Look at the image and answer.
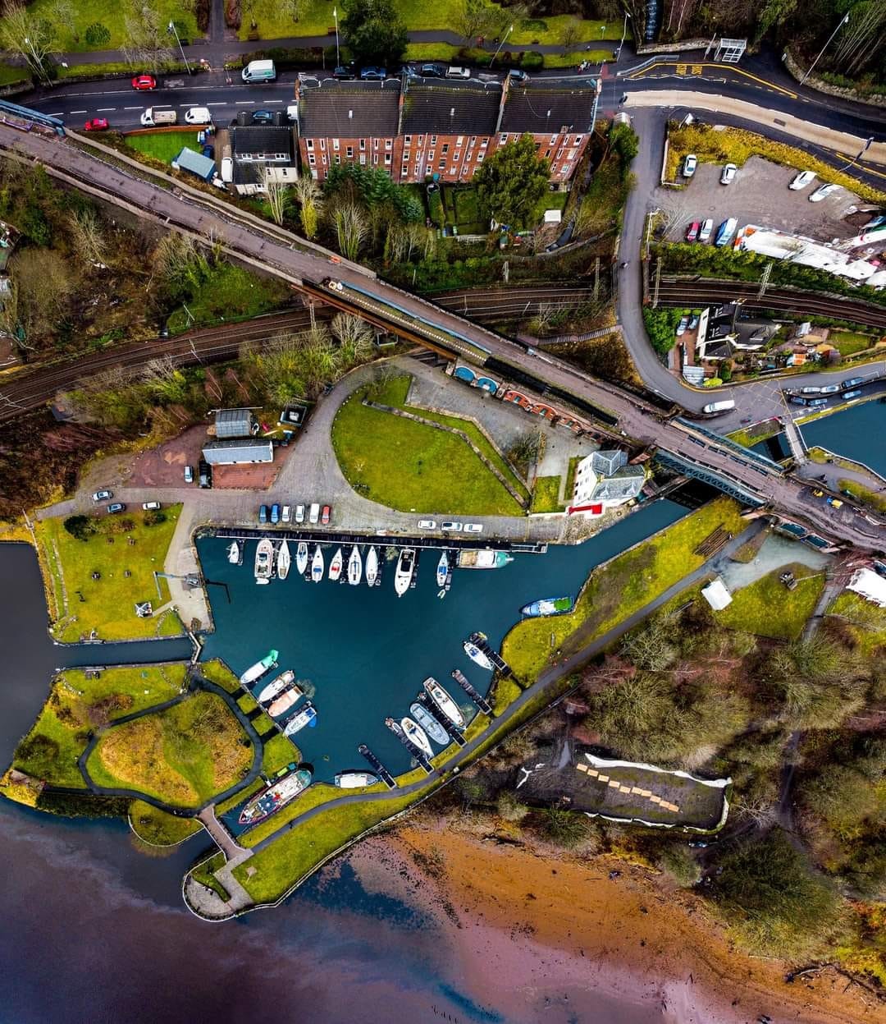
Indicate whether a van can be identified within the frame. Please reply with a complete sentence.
Yes, a van appears in the view.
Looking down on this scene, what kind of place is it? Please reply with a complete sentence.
The area seen from above is a port.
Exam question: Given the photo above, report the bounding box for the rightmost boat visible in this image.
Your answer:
[520,598,573,615]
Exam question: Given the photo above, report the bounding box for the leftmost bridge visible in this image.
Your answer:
[0,98,70,139]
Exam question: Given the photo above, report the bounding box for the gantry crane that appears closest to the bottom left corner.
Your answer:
[153,569,200,601]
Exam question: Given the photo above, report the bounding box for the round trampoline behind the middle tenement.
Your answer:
[426,173,445,195]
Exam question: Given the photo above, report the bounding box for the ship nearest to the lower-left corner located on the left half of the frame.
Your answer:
[239,766,312,833]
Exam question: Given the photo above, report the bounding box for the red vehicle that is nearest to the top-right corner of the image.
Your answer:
[686,221,700,241]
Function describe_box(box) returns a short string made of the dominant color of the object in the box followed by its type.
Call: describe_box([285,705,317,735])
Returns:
white boat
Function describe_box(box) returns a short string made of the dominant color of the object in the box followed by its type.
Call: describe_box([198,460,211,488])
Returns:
black vehicle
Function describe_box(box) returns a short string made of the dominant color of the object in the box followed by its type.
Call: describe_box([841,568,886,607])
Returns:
white tent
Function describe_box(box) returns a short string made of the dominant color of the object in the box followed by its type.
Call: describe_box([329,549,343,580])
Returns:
white boat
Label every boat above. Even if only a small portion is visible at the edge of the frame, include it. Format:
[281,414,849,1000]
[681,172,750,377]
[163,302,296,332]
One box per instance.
[285,705,317,735]
[390,718,400,731]
[520,598,573,615]
[230,541,239,565]
[335,772,376,788]
[423,676,465,727]
[347,545,363,584]
[364,546,379,585]
[241,652,275,684]
[401,715,433,757]
[295,542,308,575]
[275,540,292,579]
[311,546,324,582]
[437,552,448,586]
[463,640,493,668]
[410,700,447,744]
[458,550,512,568]
[259,668,296,702]
[329,549,343,580]
[254,540,275,578]
[396,550,417,596]
[270,685,303,715]
[306,715,317,730]
[254,579,269,584]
